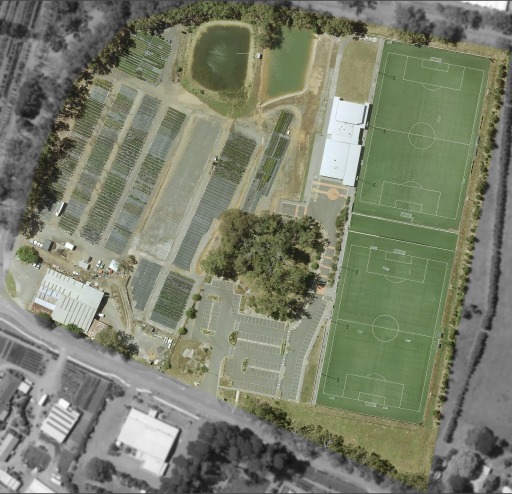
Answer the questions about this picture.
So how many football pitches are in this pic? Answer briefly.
two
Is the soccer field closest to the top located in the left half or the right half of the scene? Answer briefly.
right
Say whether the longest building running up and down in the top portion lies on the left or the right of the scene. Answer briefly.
right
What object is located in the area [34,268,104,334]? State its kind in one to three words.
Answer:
shed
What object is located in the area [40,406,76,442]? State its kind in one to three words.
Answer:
greenhouse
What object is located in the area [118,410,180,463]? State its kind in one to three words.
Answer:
building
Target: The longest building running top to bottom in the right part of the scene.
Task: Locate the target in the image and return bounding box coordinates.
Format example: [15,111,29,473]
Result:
[320,96,370,186]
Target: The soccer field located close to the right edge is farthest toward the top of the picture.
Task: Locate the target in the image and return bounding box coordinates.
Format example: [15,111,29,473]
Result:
[352,39,491,232]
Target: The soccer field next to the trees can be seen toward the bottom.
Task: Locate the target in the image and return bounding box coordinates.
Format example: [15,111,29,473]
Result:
[316,232,454,424]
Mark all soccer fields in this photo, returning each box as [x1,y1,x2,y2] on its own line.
[352,39,491,232]
[316,232,454,424]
